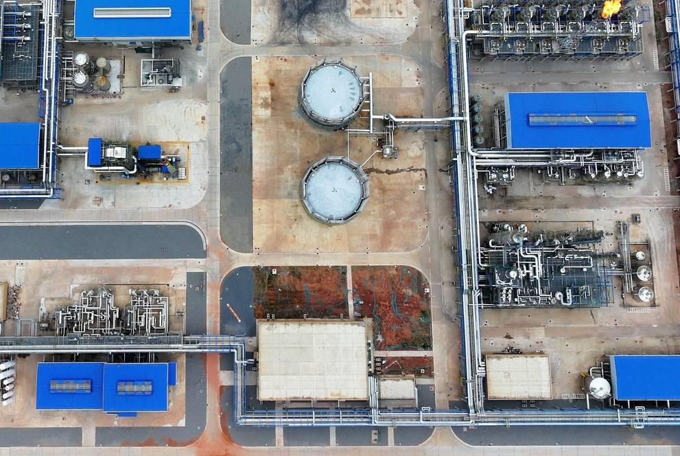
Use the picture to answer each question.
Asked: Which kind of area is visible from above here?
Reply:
industrial area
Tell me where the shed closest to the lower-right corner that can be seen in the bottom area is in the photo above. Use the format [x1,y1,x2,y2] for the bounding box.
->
[603,352,680,401]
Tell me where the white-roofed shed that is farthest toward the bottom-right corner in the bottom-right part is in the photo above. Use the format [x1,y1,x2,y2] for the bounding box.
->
[481,352,552,399]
